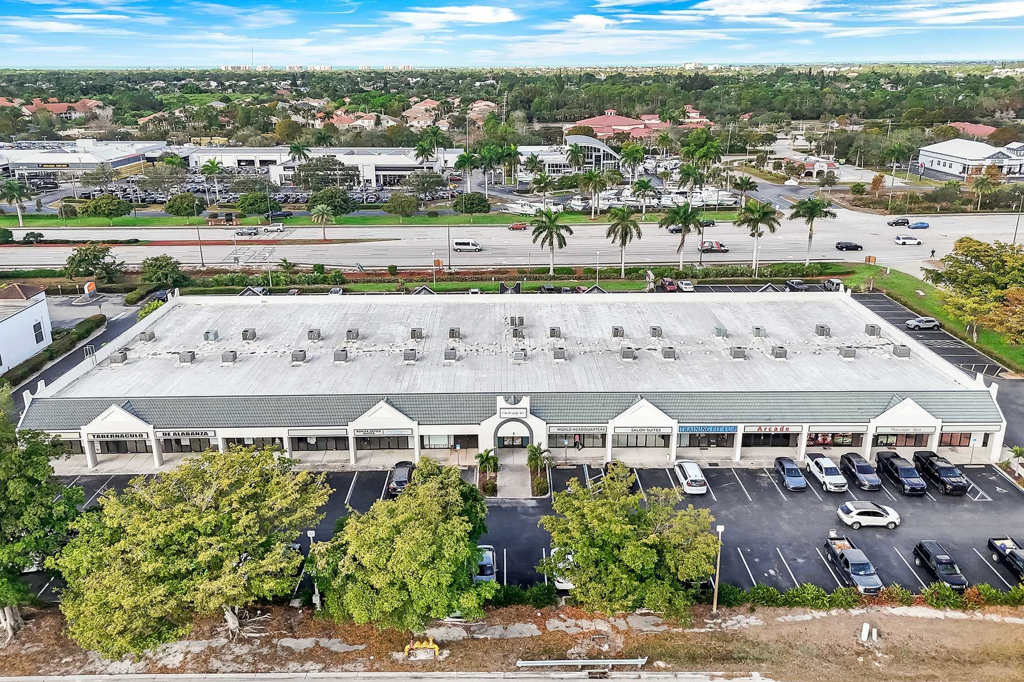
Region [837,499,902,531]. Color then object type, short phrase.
white car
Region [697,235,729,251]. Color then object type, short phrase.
white vehicle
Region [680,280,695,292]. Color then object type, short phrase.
white vehicle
